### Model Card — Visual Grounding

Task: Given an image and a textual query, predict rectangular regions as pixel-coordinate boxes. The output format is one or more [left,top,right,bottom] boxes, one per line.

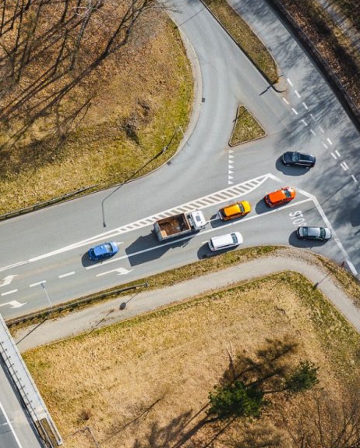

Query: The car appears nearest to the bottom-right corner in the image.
[295,224,331,241]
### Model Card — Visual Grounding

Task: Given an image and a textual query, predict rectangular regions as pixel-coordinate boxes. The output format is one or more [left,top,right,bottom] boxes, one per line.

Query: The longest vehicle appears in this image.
[147,206,215,248]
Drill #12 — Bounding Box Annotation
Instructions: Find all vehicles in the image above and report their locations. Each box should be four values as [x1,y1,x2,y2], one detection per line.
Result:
[147,206,215,248]
[87,241,119,262]
[295,224,331,241]
[217,200,250,221]
[280,150,317,169]
[262,186,295,207]
[205,231,243,251]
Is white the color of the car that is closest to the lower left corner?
No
